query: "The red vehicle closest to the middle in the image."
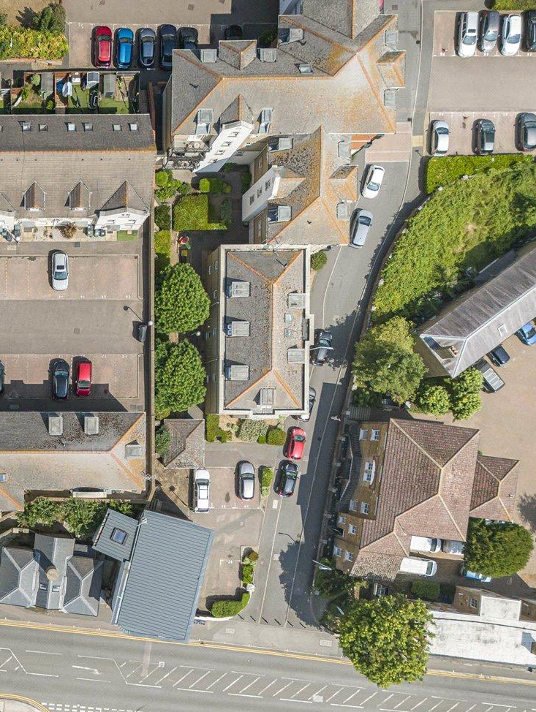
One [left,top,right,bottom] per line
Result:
[285,426,307,462]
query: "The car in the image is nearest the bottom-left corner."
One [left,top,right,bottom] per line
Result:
[192,472,211,511]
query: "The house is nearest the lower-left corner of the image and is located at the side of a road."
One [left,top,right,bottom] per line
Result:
[0,531,103,616]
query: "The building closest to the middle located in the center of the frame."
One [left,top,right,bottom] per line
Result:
[201,245,313,416]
